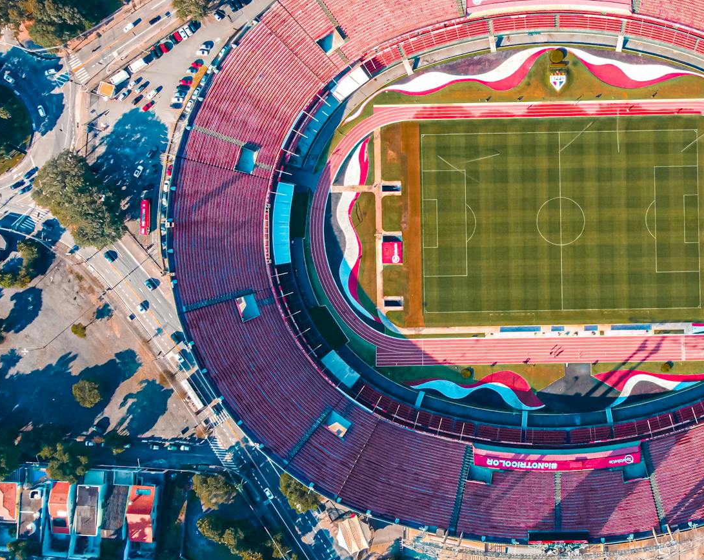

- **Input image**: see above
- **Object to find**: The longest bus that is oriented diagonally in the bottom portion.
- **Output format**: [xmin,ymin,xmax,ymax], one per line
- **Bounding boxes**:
[179,379,205,407]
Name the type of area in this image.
sports ground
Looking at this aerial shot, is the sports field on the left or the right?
right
